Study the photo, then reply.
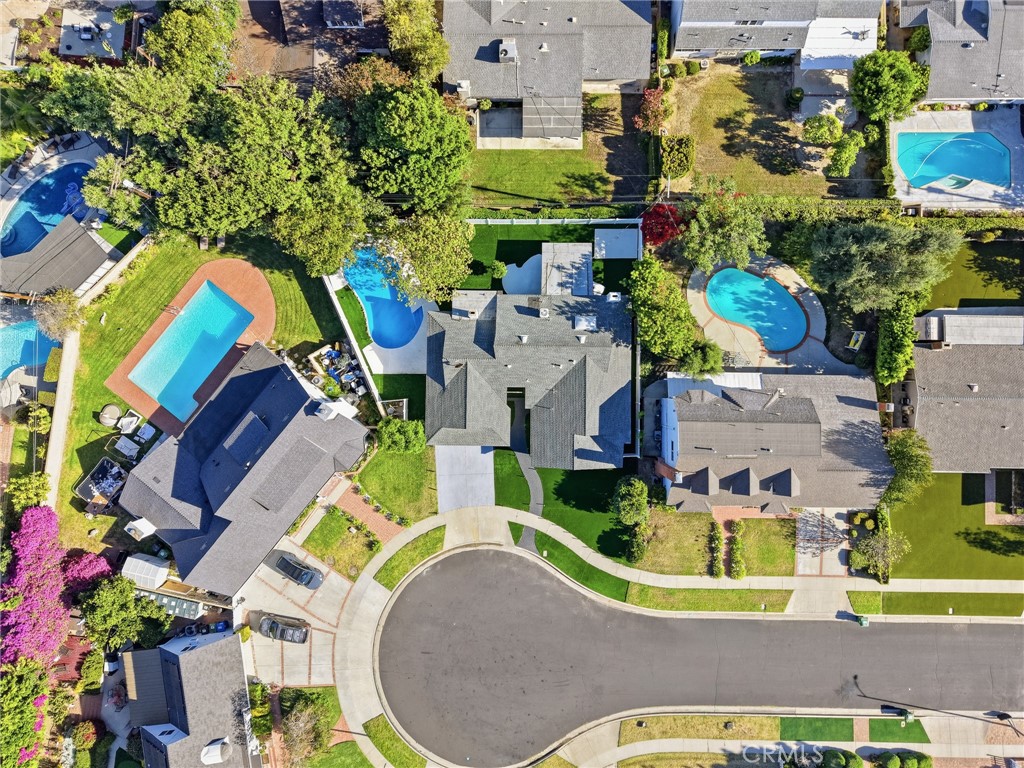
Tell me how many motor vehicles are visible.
two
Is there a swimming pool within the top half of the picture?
Yes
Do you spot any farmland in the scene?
No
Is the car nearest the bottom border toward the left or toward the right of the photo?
left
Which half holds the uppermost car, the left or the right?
left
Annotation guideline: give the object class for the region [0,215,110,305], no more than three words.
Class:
building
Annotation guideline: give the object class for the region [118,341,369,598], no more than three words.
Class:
house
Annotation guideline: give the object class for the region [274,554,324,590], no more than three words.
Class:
car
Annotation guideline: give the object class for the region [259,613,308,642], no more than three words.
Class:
car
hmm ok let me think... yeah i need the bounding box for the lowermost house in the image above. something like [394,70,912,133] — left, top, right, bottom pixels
[122,627,262,768]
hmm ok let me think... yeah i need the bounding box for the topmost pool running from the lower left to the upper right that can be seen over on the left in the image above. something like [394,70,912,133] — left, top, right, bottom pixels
[0,160,101,258]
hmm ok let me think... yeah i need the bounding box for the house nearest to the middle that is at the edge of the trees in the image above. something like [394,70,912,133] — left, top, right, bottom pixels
[427,243,632,470]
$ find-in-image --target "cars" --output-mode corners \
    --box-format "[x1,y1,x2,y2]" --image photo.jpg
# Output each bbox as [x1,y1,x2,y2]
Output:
[259,613,308,642]
[274,554,324,590]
